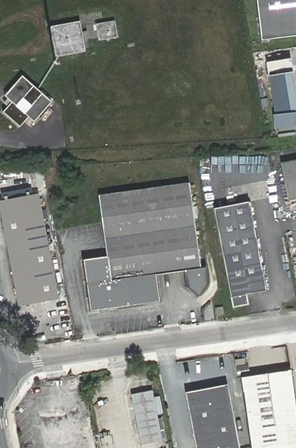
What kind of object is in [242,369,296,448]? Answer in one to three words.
building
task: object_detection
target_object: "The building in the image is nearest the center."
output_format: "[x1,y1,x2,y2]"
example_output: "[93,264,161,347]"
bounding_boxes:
[99,182,201,280]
